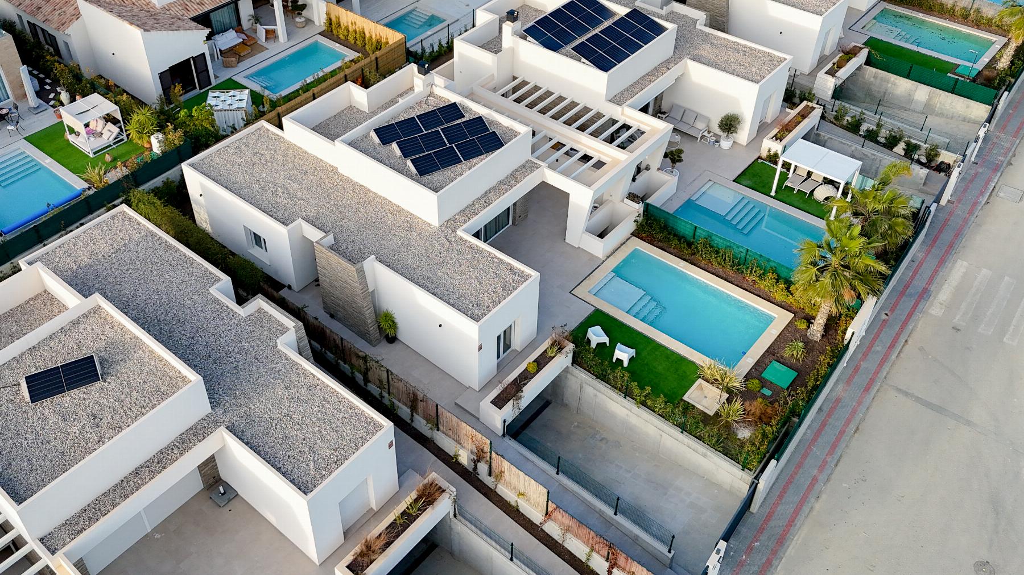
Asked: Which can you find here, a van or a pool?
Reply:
pool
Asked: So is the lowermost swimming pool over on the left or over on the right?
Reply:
right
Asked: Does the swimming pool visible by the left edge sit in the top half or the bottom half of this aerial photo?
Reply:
top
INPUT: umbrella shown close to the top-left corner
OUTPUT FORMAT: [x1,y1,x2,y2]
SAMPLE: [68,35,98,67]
[15,57,47,113]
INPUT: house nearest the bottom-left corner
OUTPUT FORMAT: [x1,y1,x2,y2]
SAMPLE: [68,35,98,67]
[0,205,400,575]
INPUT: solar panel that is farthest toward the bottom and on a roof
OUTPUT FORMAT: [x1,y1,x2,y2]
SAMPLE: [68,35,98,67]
[22,350,104,405]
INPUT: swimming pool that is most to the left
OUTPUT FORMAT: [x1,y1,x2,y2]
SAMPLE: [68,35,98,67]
[0,131,85,217]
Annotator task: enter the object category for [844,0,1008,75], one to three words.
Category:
swimming pool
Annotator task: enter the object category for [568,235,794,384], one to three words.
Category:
swimming pool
